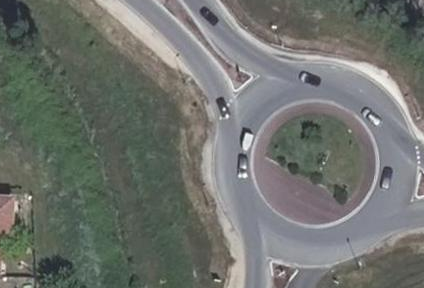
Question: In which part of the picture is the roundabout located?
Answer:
right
